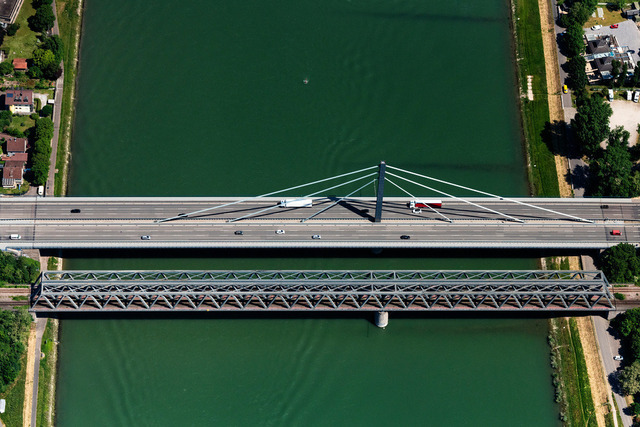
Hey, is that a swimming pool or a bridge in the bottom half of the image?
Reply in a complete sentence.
Visible in the bottom half of the image is a bridge.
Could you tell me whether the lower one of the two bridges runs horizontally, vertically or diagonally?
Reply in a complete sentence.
From this overhead view, the lower one of the two bridges appears to run horizontally.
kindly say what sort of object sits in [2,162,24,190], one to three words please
house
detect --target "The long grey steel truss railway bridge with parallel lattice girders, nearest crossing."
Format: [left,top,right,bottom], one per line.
[31,270,614,326]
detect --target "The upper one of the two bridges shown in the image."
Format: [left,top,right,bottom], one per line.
[32,159,628,256]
